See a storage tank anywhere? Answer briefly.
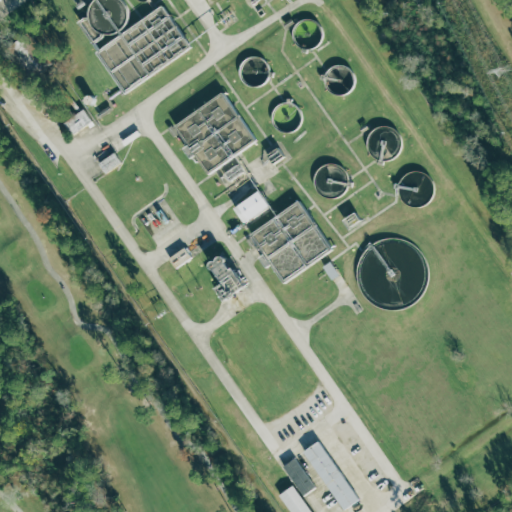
Yes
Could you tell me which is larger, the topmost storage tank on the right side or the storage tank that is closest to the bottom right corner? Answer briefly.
the storage tank that is closest to the bottom right corner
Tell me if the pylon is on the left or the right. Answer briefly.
right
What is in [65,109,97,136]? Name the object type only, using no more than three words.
building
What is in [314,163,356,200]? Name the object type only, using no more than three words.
storage tank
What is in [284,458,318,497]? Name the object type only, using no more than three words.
building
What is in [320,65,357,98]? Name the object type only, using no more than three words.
storage tank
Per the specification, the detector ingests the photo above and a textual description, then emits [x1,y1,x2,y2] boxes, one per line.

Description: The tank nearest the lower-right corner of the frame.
[357,238,430,312]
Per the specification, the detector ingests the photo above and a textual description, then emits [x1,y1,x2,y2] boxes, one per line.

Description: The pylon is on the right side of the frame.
[488,64,511,87]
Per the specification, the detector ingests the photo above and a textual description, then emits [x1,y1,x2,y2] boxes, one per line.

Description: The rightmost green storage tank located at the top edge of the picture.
[293,19,325,55]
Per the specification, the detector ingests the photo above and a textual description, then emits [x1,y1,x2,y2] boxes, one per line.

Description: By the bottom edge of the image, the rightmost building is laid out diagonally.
[304,442,361,511]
